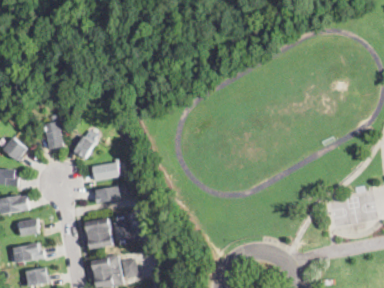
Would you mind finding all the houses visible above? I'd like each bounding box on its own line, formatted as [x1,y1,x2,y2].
[16,217,41,236]
[90,251,128,288]
[74,127,102,159]
[3,136,30,162]
[12,242,48,262]
[84,217,116,250]
[47,122,65,150]
[92,161,120,182]
[96,184,123,204]
[24,264,52,287]
[0,193,32,214]
[0,166,21,187]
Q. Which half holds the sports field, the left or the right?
right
